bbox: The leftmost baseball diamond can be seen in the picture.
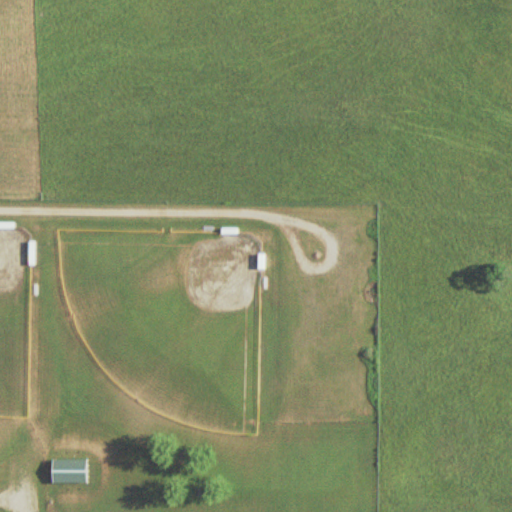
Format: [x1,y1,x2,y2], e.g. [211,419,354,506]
[0,228,32,417]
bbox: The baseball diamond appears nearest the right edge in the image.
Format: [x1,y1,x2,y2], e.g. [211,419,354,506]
[58,230,262,434]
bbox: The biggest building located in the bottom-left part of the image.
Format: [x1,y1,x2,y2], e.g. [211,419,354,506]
[52,460,90,483]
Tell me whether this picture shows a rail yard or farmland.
farmland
